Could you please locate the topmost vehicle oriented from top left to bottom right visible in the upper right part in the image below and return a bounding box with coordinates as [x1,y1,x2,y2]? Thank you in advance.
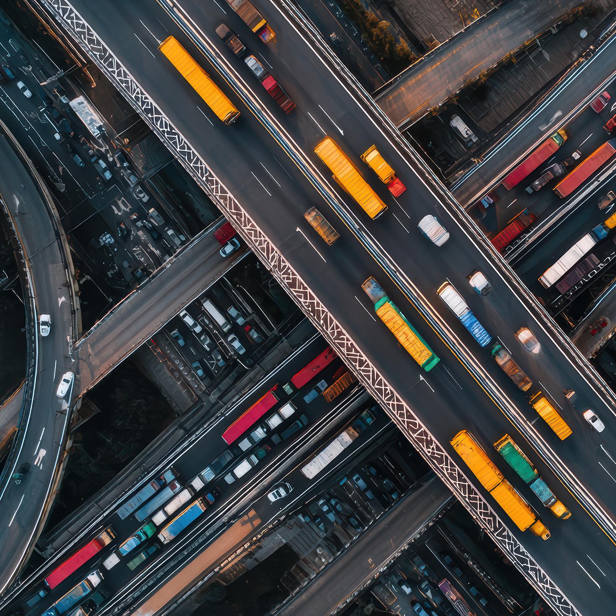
[449,113,475,144]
